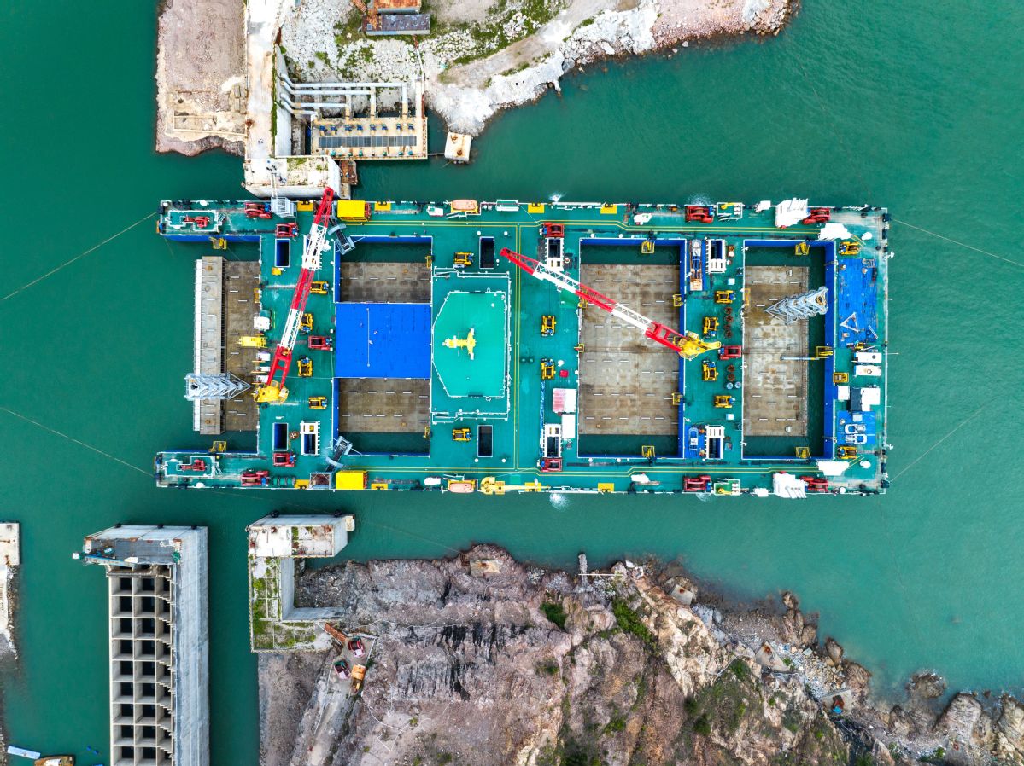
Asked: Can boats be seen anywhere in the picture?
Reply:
Yes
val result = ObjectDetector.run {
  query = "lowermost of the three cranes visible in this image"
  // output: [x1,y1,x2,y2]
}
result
[479,477,553,496]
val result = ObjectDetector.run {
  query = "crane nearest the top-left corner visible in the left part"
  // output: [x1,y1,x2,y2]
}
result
[254,184,334,407]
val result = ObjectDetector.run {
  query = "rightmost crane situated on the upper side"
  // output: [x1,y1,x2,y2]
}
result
[497,246,721,360]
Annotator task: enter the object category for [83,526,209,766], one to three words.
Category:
pier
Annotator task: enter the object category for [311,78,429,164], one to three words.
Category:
building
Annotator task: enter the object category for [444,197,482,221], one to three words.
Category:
boat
